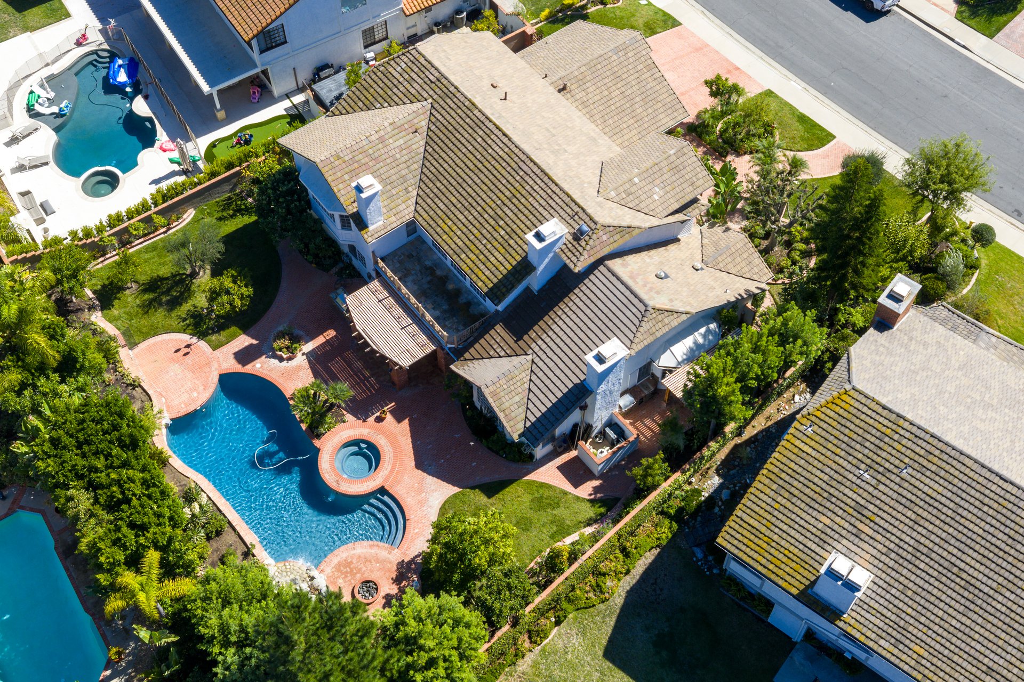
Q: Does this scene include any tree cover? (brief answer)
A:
Yes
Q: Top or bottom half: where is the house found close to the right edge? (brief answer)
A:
bottom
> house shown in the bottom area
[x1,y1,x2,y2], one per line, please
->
[713,273,1024,682]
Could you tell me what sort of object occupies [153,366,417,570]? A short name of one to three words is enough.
swimming pool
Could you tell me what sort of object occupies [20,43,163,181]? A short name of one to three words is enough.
swimming pool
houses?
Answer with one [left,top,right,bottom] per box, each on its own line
[278,22,774,461]
[713,273,1024,682]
